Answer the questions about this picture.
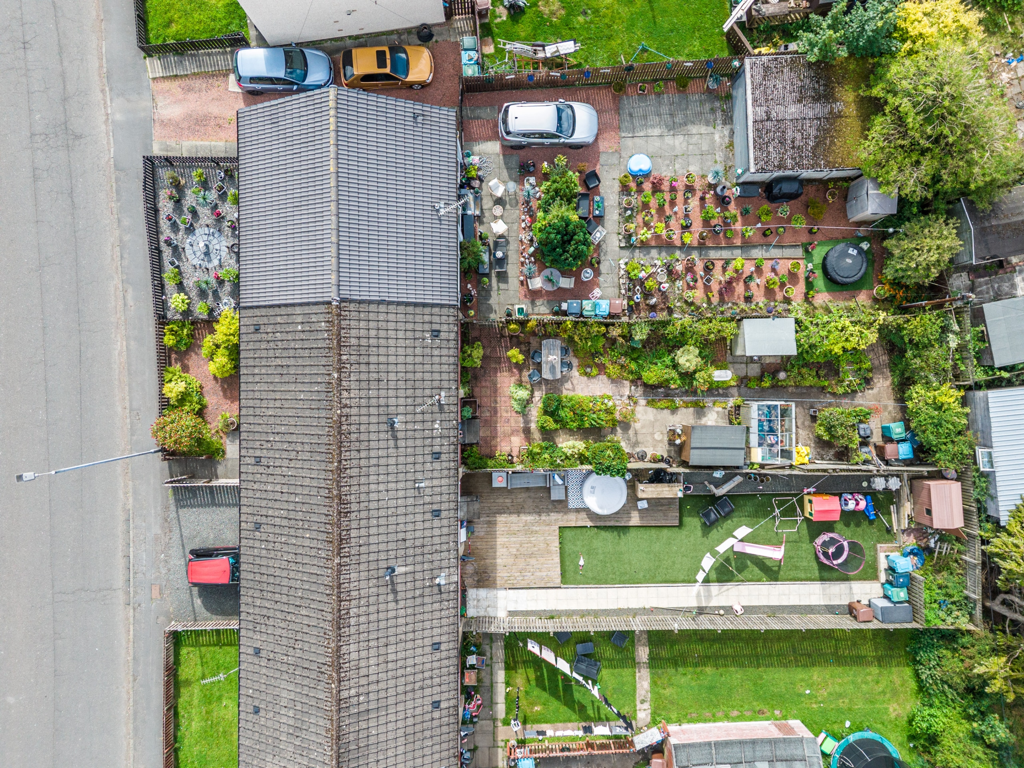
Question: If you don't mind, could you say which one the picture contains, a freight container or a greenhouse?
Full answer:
This aerial view contains a greenhouse.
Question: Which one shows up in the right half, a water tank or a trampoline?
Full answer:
You can see a trampoline in the right half.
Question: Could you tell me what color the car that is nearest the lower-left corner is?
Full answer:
The color of the car that is nearest the lower-left corner is red.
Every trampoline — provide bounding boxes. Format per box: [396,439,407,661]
[815,533,865,574]
[825,725,918,768]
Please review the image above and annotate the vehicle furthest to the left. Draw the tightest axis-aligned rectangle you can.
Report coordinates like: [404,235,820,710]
[190,545,236,592]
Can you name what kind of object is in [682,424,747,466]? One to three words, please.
shed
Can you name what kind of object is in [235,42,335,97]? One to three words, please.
car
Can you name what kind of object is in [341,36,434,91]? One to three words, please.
car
